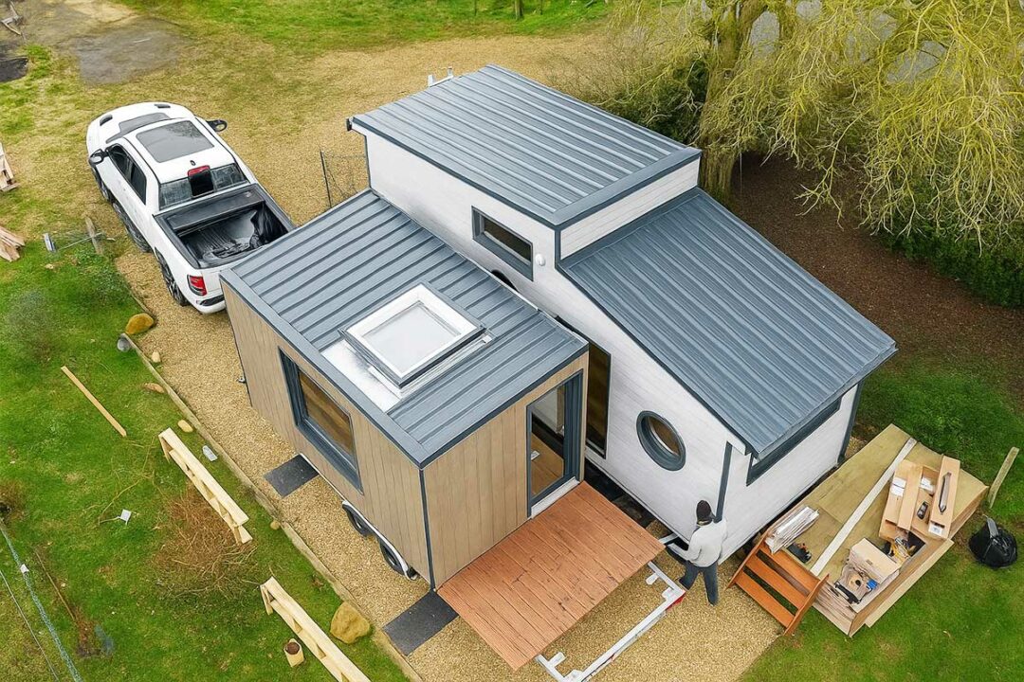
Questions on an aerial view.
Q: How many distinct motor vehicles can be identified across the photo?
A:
one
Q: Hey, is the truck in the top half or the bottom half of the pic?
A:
top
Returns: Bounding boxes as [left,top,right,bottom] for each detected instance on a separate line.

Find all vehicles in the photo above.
[83,105,299,323]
